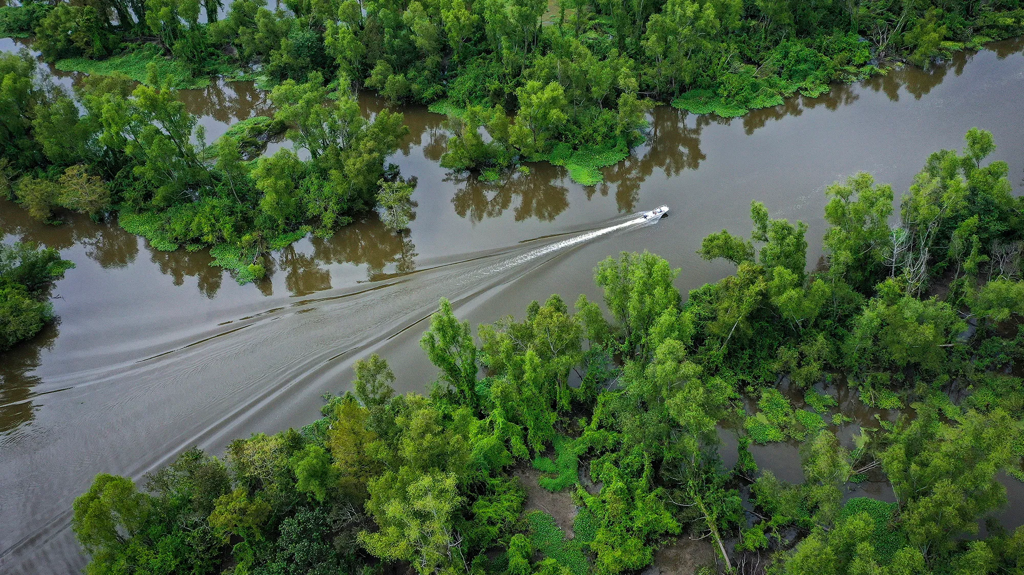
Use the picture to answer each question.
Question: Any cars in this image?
No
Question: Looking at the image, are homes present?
No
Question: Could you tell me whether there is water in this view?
Yes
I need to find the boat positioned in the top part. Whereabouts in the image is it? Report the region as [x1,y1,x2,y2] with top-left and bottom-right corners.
[642,201,670,221]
